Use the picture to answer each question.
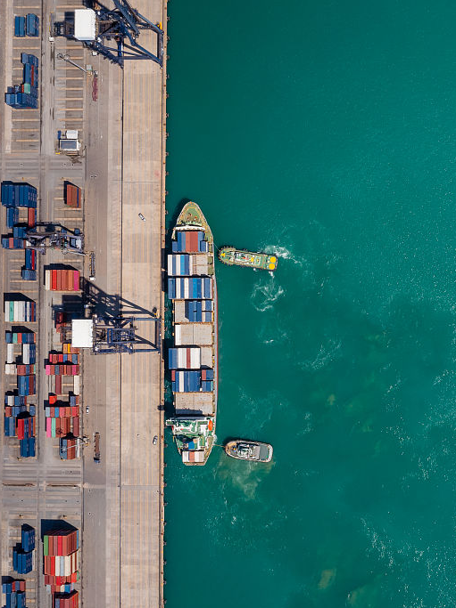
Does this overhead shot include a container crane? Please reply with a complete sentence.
Yes, the picture does show a container crane.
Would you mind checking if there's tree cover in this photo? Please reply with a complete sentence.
No, tree cover can't be seen anywhere here.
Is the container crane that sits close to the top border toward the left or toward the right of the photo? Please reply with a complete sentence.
The container crane that sits close to the top border sits on the left side.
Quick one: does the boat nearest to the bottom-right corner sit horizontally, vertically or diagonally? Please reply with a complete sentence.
What the image shows is the boat nearest to the bottom-right corner lying horizontally.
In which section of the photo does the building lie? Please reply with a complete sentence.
The building is in the top left part of the image.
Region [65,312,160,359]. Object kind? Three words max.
container crane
